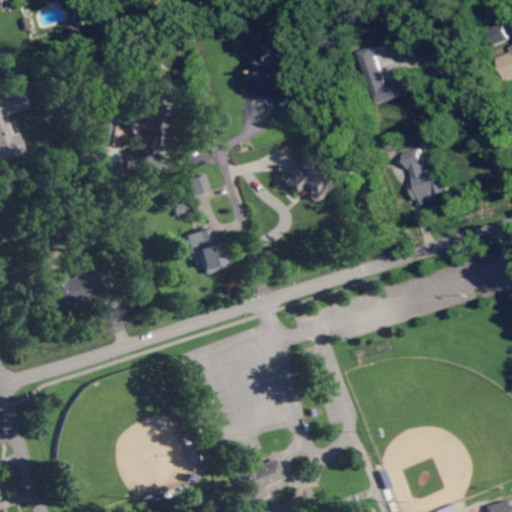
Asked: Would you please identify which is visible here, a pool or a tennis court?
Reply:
pool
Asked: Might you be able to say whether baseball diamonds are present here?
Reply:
Yes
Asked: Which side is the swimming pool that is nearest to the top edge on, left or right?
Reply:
left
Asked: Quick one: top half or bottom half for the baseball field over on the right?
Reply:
bottom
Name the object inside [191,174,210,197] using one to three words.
building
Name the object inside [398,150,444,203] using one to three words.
house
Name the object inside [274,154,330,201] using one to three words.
house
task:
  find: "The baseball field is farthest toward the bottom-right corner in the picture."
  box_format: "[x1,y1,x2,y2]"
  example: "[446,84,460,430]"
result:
[344,357,512,512]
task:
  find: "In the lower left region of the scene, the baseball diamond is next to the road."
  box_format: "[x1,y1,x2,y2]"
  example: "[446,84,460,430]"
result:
[56,366,208,507]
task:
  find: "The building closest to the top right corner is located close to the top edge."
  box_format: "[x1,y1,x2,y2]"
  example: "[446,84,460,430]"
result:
[488,24,510,49]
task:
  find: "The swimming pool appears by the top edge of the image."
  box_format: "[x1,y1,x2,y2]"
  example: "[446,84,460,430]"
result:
[36,4,68,29]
